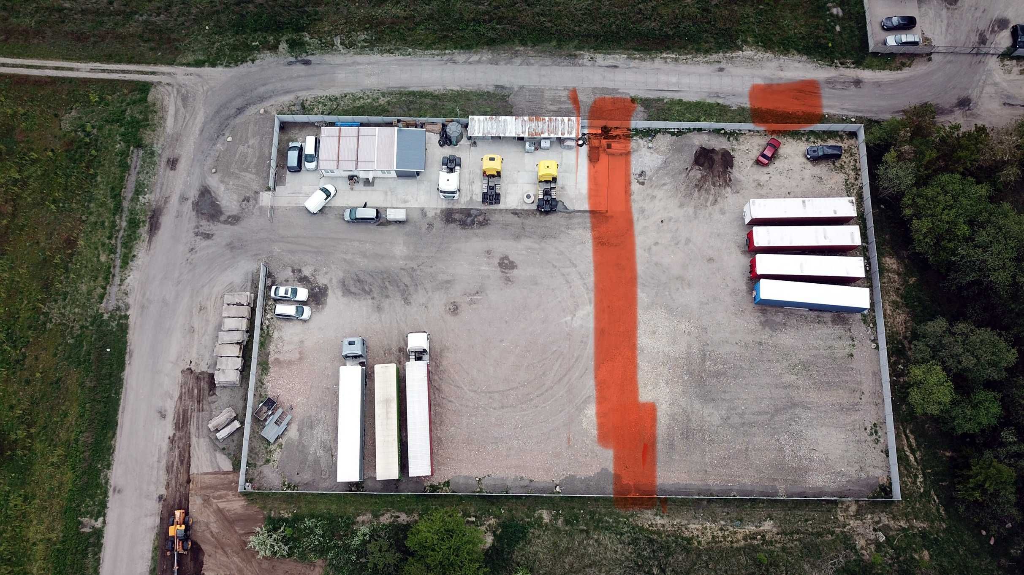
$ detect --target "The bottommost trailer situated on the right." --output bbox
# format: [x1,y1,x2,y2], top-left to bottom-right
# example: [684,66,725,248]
[753,279,870,314]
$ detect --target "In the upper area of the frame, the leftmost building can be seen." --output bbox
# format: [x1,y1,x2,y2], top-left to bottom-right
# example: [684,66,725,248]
[319,126,427,187]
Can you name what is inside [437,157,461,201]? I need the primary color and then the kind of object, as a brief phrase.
white truck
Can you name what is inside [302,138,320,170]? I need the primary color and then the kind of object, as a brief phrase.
white car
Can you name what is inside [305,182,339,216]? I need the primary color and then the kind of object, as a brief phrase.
white van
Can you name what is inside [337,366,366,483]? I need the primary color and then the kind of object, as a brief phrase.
white trailer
